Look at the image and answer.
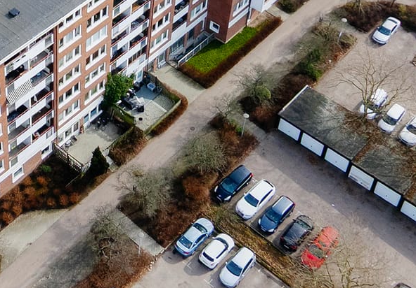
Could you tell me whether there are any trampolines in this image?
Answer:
No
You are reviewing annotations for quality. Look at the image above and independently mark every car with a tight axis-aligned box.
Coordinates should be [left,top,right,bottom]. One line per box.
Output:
[238,178,274,218]
[220,246,254,287]
[401,115,416,143]
[215,164,252,201]
[303,228,338,264]
[373,14,401,42]
[279,215,314,250]
[378,103,407,133]
[175,217,213,256]
[259,193,295,232]
[199,232,235,269]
